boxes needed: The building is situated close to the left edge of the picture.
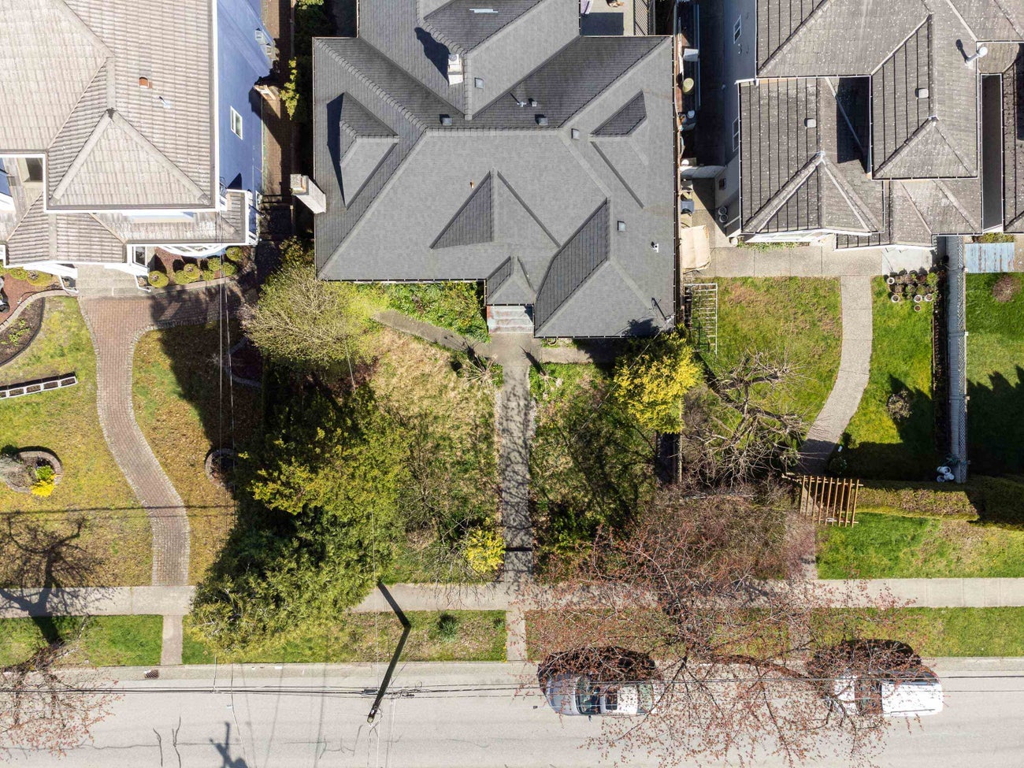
[0,0,269,279]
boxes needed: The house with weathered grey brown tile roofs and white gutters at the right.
[720,0,1024,251]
